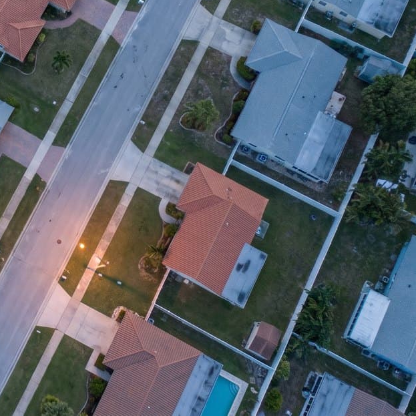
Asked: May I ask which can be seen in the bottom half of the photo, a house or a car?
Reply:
house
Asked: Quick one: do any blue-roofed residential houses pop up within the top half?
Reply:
Yes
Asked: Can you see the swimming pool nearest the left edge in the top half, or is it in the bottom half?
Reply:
bottom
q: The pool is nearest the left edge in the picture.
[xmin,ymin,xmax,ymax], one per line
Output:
[201,374,241,416]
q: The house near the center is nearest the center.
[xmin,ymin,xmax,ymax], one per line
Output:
[161,162,268,309]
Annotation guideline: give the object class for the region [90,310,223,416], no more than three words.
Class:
house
